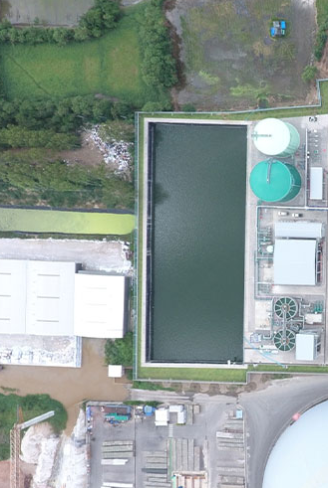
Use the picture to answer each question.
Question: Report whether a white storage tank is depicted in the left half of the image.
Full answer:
No, I see no white storage tank in the left half of the image.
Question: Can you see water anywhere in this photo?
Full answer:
Yes, there's water in this view.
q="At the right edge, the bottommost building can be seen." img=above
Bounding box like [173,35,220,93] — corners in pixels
[294,333,319,362]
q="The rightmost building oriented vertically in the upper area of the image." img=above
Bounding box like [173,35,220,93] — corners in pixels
[309,166,325,201]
